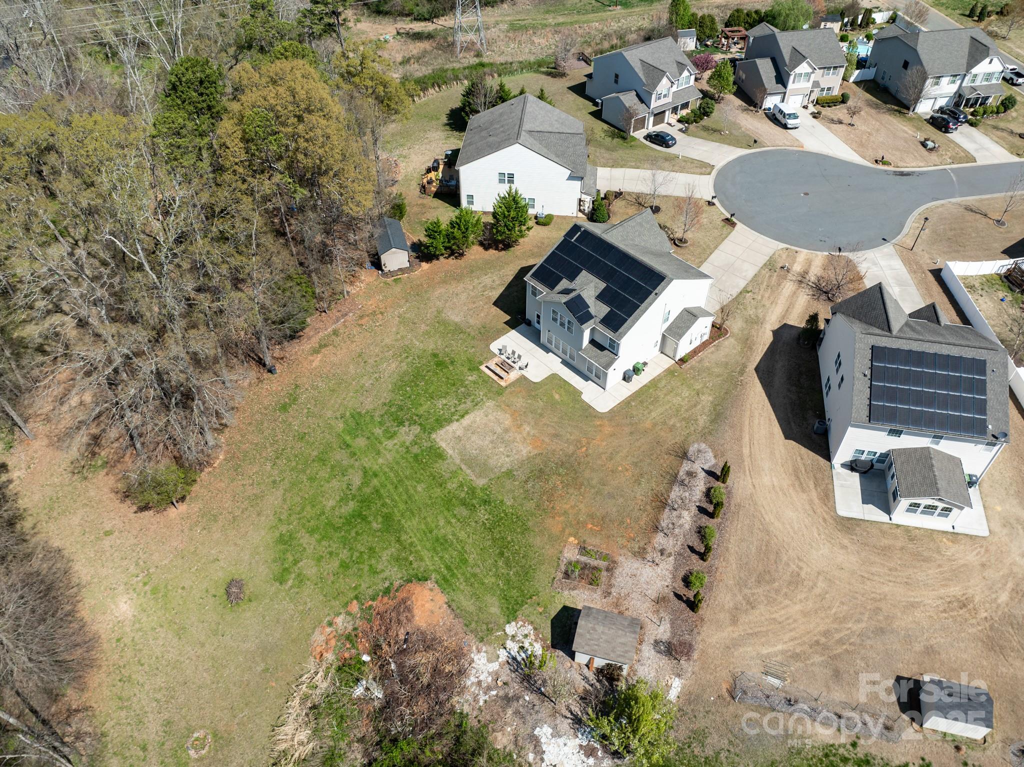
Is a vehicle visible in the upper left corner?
No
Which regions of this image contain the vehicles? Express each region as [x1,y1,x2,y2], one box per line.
[771,100,803,129]
[929,114,959,132]
[1006,65,1024,84]
[644,131,677,147]
[937,104,968,123]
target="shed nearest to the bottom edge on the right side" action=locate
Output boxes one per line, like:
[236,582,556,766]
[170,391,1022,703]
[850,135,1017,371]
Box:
[915,669,996,741]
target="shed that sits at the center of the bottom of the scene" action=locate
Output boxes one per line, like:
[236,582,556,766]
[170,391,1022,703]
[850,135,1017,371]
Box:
[572,606,641,678]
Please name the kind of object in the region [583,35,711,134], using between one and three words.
house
